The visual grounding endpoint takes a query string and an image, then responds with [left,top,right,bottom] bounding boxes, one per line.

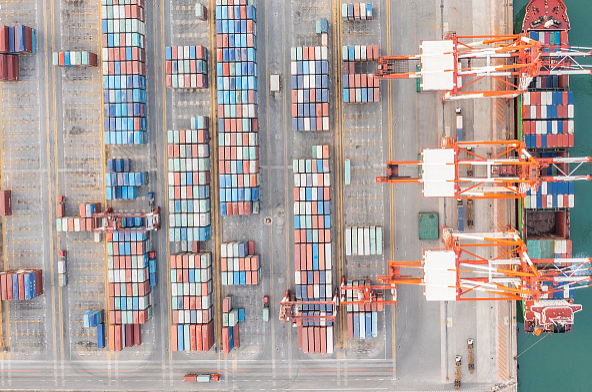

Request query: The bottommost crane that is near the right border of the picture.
[376,221,592,304]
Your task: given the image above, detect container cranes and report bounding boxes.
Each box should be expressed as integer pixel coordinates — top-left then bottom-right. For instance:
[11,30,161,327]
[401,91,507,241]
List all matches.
[90,203,163,234]
[374,133,592,201]
[337,272,399,307]
[364,25,592,109]
[376,221,592,304]
[279,285,341,321]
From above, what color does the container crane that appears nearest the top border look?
white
